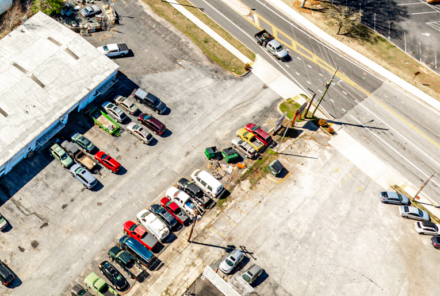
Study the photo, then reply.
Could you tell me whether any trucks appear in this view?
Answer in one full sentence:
Yes, a truck can be made out from above.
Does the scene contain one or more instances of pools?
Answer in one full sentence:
No, there's no pool here.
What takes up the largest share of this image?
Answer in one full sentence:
The scene is dominated by paved ground.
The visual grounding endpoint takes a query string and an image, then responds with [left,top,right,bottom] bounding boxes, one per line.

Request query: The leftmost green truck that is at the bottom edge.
[81,270,122,296]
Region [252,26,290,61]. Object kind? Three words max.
truck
